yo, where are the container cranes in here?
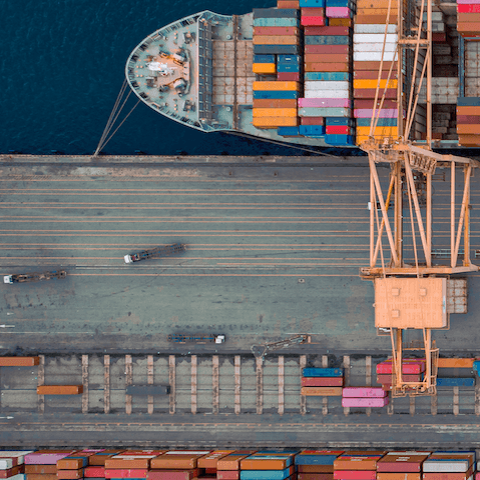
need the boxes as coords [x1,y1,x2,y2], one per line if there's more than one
[358,0,480,398]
